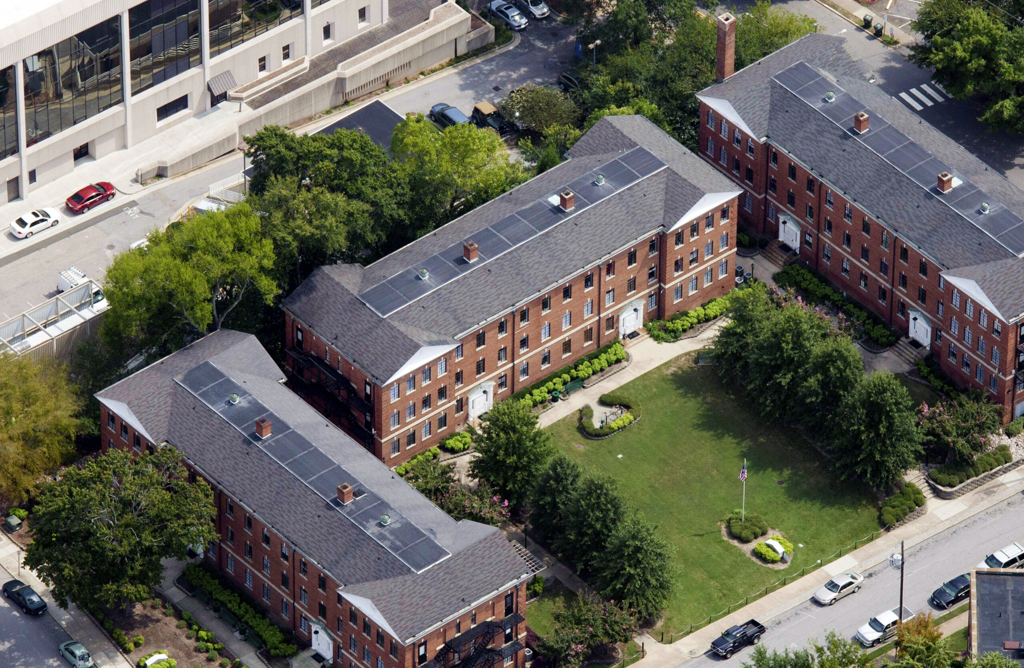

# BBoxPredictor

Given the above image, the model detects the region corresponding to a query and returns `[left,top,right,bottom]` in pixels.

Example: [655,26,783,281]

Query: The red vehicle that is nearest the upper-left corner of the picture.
[65,185,116,218]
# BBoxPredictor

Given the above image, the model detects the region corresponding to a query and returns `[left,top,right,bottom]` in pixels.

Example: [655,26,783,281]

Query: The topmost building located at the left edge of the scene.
[0,0,388,209]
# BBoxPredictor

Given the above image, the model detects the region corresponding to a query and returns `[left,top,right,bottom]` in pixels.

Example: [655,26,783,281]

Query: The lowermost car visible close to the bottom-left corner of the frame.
[57,641,96,668]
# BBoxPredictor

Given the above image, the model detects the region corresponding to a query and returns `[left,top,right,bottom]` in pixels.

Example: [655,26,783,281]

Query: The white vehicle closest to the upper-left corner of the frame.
[9,210,61,243]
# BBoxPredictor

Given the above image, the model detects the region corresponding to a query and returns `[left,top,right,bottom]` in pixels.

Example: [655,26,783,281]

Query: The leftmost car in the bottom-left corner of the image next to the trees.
[0,582,49,620]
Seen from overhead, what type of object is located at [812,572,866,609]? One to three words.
car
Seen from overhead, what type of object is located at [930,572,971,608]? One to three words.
car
